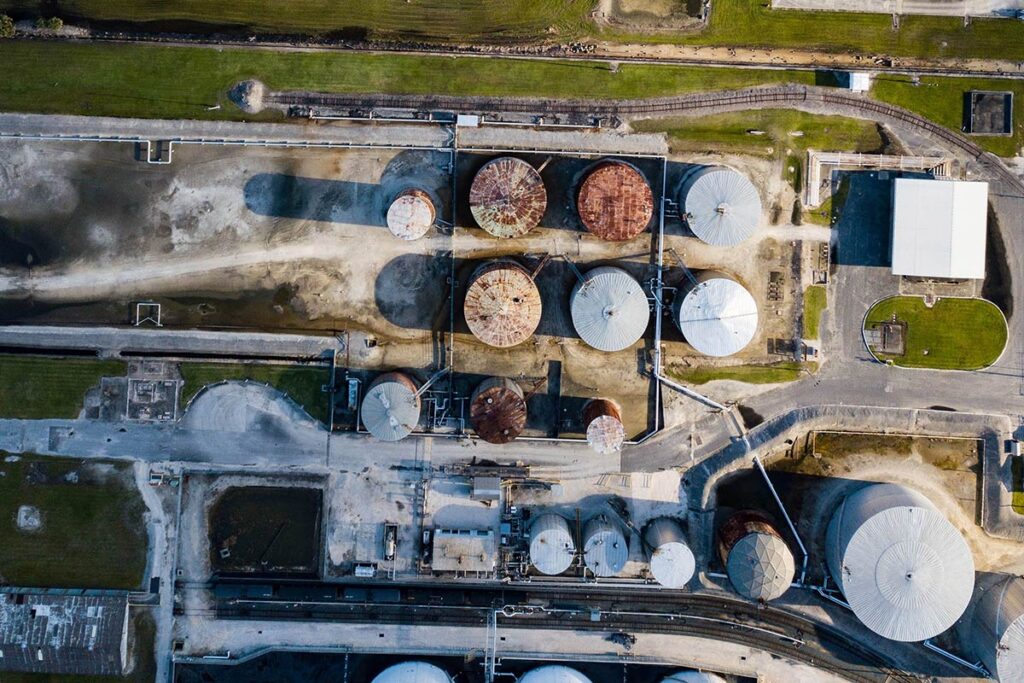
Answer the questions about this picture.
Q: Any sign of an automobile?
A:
No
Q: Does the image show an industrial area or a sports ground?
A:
industrial area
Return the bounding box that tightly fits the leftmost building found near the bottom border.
[0,581,135,675]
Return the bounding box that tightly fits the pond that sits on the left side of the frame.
[214,486,322,572]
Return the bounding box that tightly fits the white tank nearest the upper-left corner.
[387,186,451,240]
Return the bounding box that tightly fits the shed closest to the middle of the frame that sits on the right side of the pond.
[474,473,500,500]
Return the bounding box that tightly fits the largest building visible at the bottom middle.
[433,530,494,571]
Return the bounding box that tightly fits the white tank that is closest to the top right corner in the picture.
[676,163,762,247]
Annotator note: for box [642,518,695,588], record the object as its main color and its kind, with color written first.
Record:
white storage tank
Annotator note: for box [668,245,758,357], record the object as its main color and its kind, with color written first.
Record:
white storage tank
